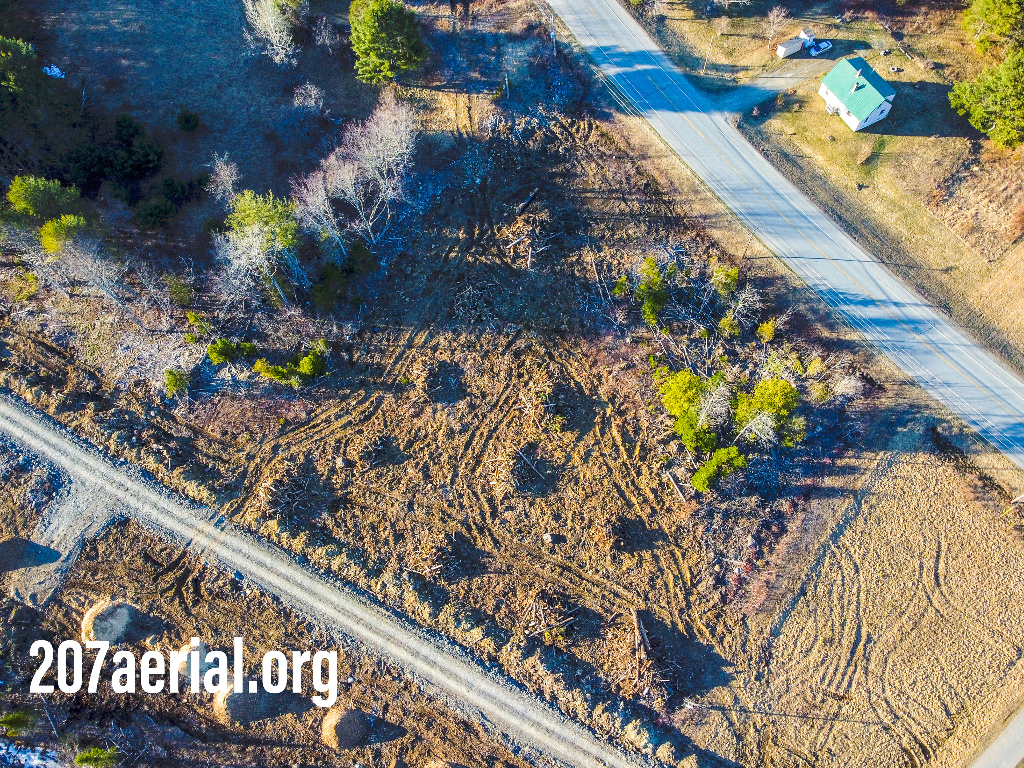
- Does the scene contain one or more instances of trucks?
No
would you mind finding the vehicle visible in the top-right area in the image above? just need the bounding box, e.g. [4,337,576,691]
[810,40,836,56]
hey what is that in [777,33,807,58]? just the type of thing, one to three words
shed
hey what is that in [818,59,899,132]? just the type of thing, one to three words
house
